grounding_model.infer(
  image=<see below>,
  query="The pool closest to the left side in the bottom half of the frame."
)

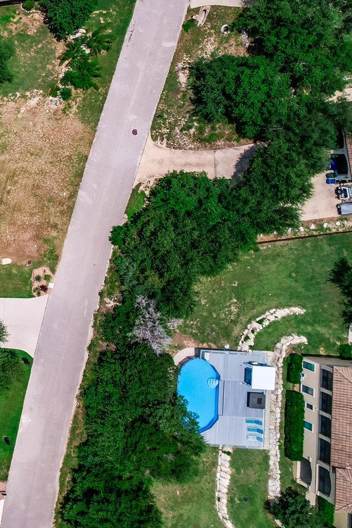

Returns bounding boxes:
[172,355,220,434]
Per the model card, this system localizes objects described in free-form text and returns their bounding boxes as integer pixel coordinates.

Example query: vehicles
[339,201,352,219]
[338,184,352,202]
[336,158,344,173]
